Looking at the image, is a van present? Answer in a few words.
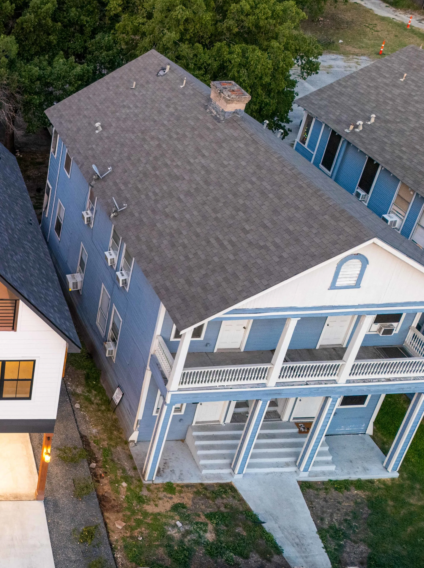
No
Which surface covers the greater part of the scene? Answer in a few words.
buildings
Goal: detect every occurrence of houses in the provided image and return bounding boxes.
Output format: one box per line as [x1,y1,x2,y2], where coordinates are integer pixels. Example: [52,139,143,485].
[43,49,424,487]
[0,142,85,502]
